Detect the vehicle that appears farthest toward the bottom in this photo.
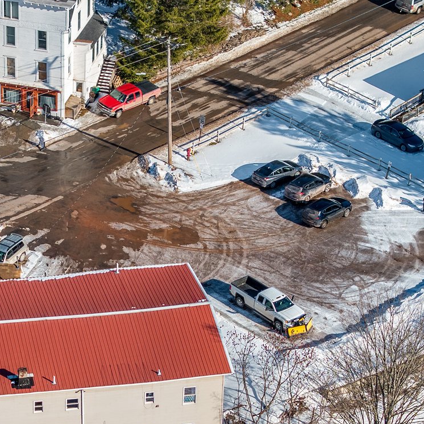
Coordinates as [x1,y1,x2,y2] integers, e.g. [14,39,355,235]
[231,281,303,331]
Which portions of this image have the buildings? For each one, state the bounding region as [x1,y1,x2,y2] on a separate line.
[0,0,144,128]
[0,262,234,424]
